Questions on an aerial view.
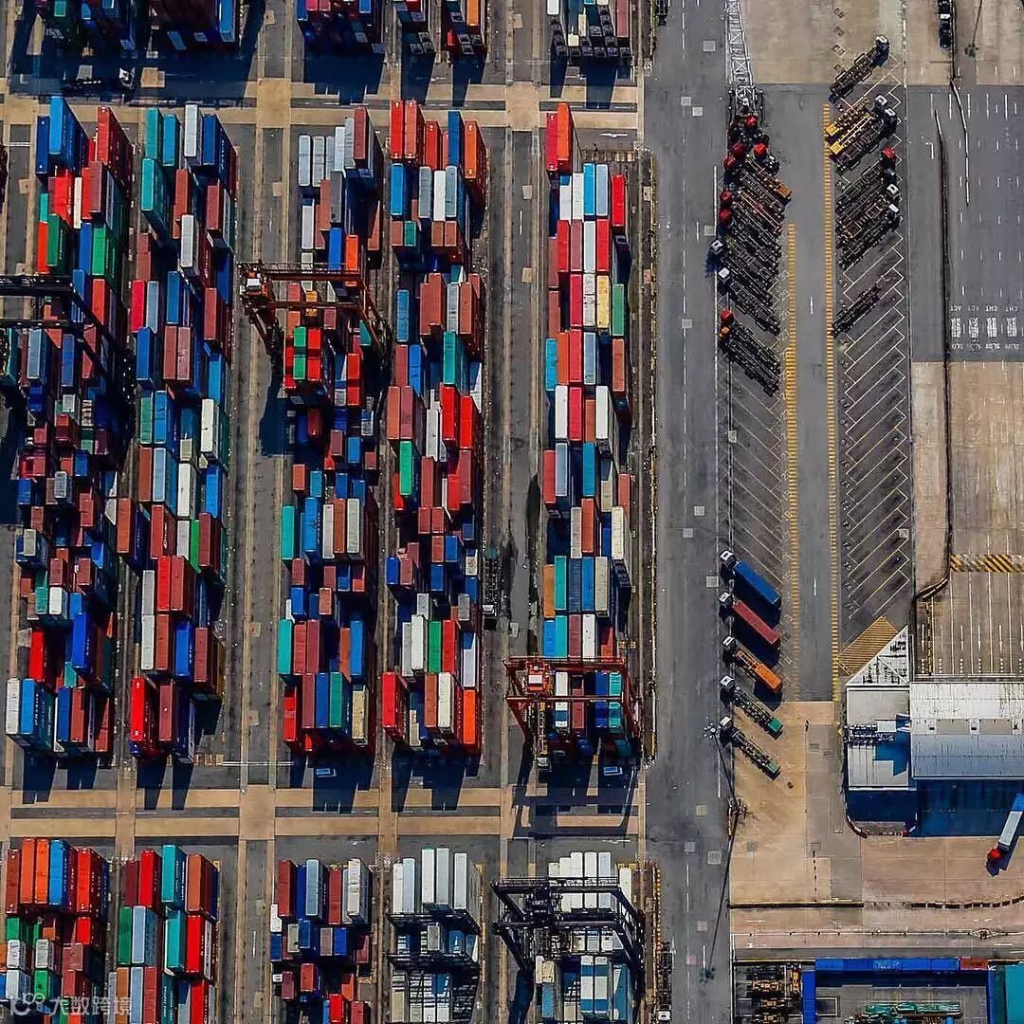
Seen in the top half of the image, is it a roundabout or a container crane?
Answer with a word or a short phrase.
container crane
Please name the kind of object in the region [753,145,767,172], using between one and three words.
vehicle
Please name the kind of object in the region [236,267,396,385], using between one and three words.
container crane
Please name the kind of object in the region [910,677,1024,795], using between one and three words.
shed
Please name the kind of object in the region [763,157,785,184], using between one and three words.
truck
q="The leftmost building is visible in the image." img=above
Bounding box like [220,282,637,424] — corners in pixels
[847,691,911,798]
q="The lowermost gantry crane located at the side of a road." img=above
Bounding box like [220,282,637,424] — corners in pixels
[489,880,642,967]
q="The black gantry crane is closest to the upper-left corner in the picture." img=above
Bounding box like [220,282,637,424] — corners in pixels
[0,277,129,407]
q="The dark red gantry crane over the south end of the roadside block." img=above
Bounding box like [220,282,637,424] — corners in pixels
[501,652,646,756]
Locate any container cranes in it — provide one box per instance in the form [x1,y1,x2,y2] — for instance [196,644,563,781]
[501,652,646,756]
[0,277,129,407]
[236,267,396,385]
[489,880,642,967]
